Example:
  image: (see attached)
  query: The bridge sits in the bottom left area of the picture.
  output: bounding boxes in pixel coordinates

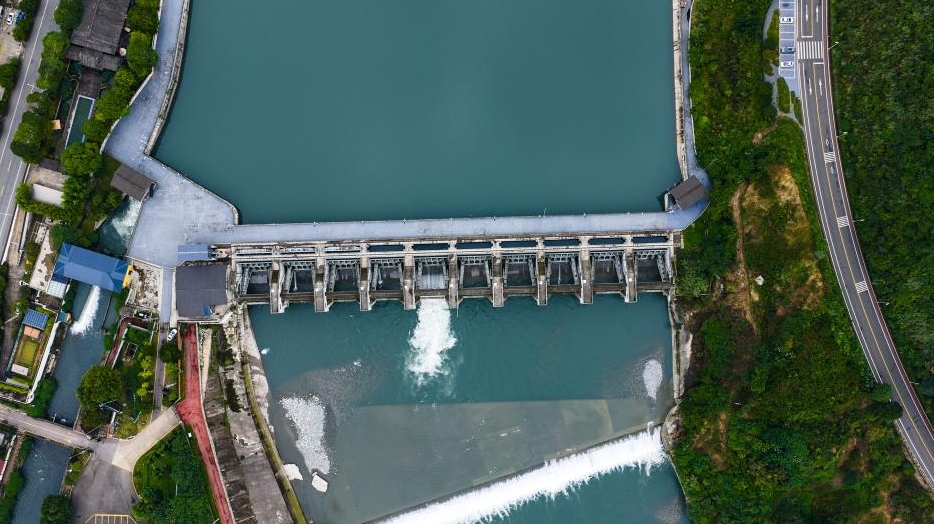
[21,413,91,451]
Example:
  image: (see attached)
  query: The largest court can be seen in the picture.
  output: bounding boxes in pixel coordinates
[16,337,36,367]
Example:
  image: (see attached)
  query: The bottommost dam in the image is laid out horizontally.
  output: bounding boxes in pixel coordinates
[342,400,666,524]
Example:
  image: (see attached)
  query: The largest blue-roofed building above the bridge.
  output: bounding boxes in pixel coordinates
[54,243,136,292]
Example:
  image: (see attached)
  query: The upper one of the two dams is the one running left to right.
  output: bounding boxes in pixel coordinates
[224,212,683,374]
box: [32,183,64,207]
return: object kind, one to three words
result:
building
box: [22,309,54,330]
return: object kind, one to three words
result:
house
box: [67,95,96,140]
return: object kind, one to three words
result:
swimming pool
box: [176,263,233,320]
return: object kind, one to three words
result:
building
